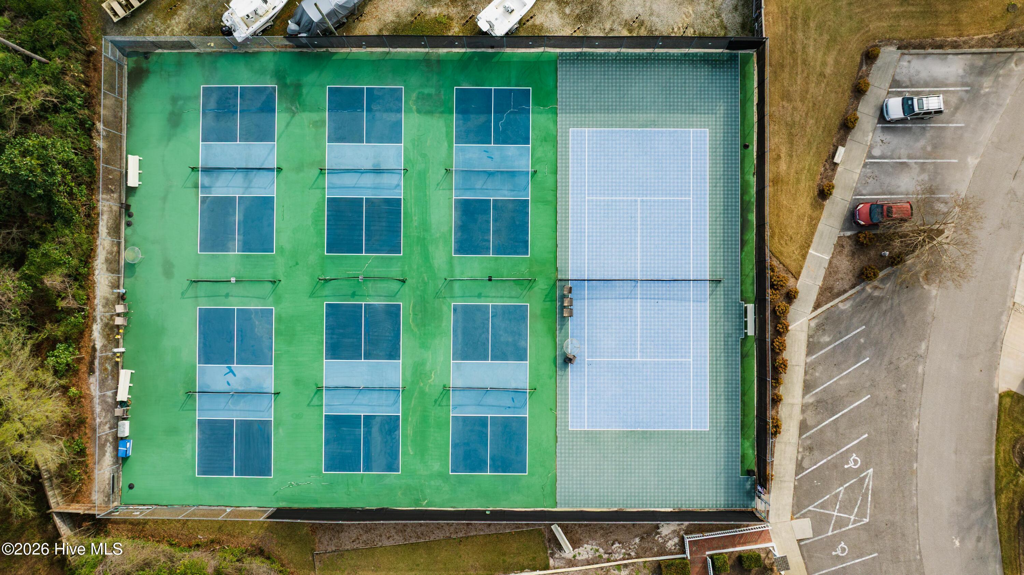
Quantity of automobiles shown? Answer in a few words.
2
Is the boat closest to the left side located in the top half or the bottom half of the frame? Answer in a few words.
top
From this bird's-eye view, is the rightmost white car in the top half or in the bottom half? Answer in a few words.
top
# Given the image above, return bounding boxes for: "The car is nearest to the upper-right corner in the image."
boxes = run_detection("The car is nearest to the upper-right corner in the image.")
[878,92,943,122]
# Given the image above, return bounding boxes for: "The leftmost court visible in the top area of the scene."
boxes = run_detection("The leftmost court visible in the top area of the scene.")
[198,85,277,253]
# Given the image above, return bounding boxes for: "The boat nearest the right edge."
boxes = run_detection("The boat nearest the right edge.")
[480,0,540,36]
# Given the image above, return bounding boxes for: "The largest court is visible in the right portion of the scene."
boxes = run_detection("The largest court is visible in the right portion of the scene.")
[556,52,755,508]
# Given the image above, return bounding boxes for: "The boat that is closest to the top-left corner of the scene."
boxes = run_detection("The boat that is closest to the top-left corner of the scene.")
[102,0,149,24]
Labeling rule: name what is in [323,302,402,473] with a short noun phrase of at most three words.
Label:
sports court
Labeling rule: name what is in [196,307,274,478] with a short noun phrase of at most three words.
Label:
sports court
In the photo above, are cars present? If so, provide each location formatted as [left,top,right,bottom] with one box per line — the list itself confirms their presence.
[851,197,915,227]
[878,92,943,122]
